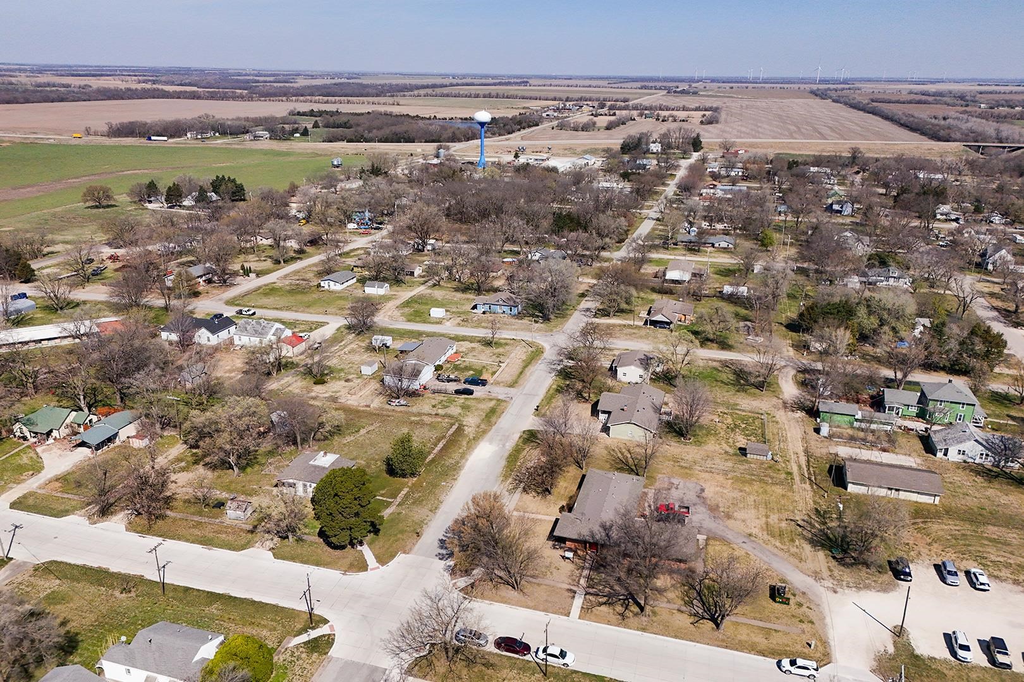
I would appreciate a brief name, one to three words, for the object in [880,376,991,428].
house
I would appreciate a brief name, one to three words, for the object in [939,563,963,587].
car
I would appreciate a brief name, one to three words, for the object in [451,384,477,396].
vehicle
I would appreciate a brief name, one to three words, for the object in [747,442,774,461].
shed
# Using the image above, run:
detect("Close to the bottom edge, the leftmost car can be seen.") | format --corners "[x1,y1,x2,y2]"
[452,625,489,648]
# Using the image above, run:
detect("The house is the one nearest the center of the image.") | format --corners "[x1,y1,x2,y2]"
[470,293,528,315]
